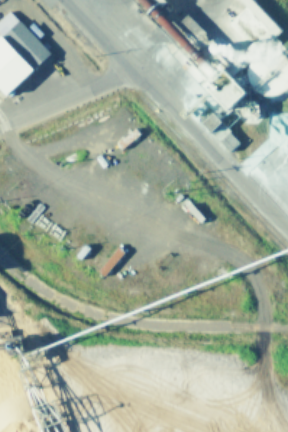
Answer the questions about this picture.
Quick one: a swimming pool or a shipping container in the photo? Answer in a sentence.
It is a shipping container that can be seen here.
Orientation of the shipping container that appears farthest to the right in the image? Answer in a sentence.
In this picture, the shipping container that appears farthest to the right is oriented on a diagonal.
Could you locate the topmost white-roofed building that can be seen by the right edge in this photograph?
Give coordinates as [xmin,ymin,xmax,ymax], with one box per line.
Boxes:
[192,0,283,45]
